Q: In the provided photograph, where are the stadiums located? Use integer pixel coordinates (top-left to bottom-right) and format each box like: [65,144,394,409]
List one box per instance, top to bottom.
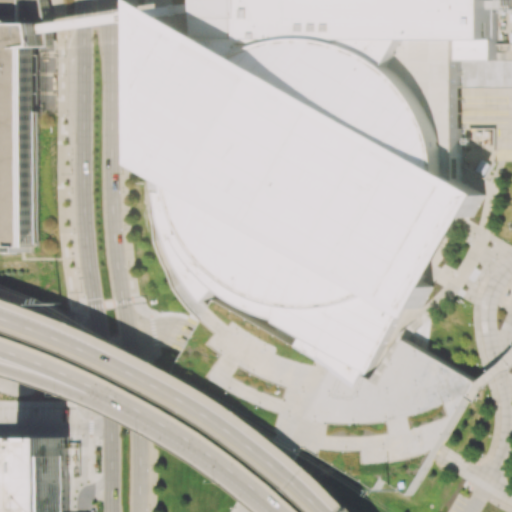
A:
[117,2,483,386]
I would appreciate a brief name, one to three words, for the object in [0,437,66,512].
building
